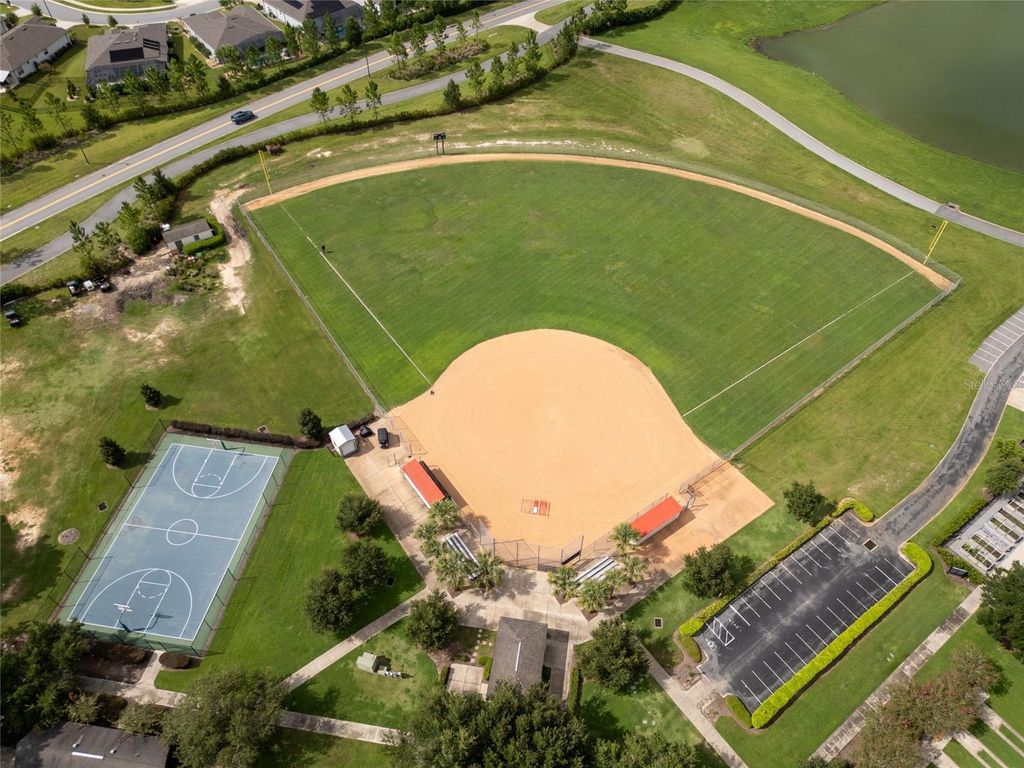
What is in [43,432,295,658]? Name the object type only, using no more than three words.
basketball court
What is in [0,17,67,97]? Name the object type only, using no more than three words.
house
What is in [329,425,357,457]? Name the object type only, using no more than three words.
shed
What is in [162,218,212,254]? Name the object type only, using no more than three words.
shed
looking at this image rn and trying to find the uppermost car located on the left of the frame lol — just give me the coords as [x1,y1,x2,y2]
[231,112,254,125]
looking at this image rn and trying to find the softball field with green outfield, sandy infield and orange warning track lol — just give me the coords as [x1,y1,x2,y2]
[242,154,957,583]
